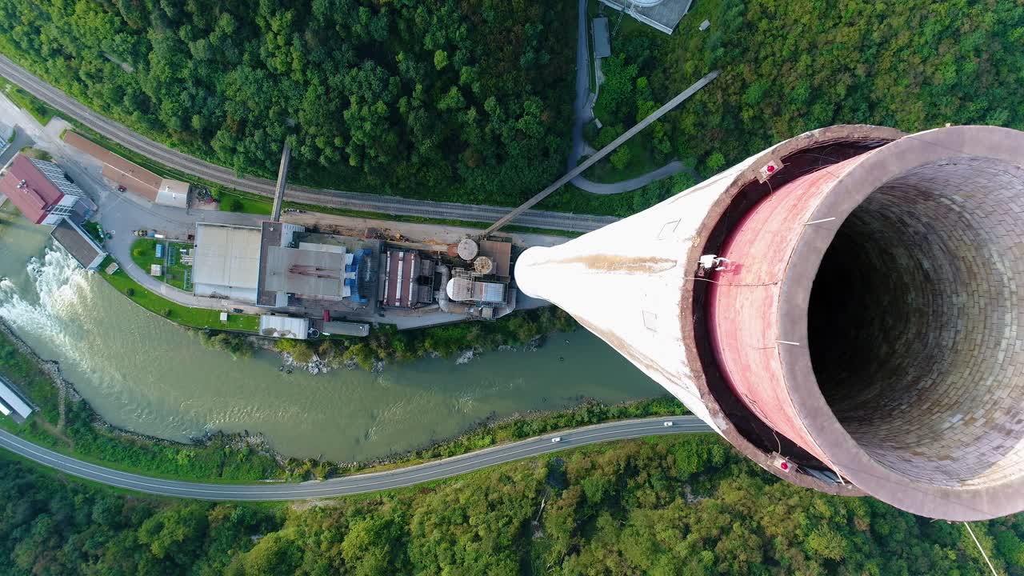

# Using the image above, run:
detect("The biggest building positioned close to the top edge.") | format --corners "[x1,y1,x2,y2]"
[592,17,611,60]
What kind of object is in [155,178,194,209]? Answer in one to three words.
building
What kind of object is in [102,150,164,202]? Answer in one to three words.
shed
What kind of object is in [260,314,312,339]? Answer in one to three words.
building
